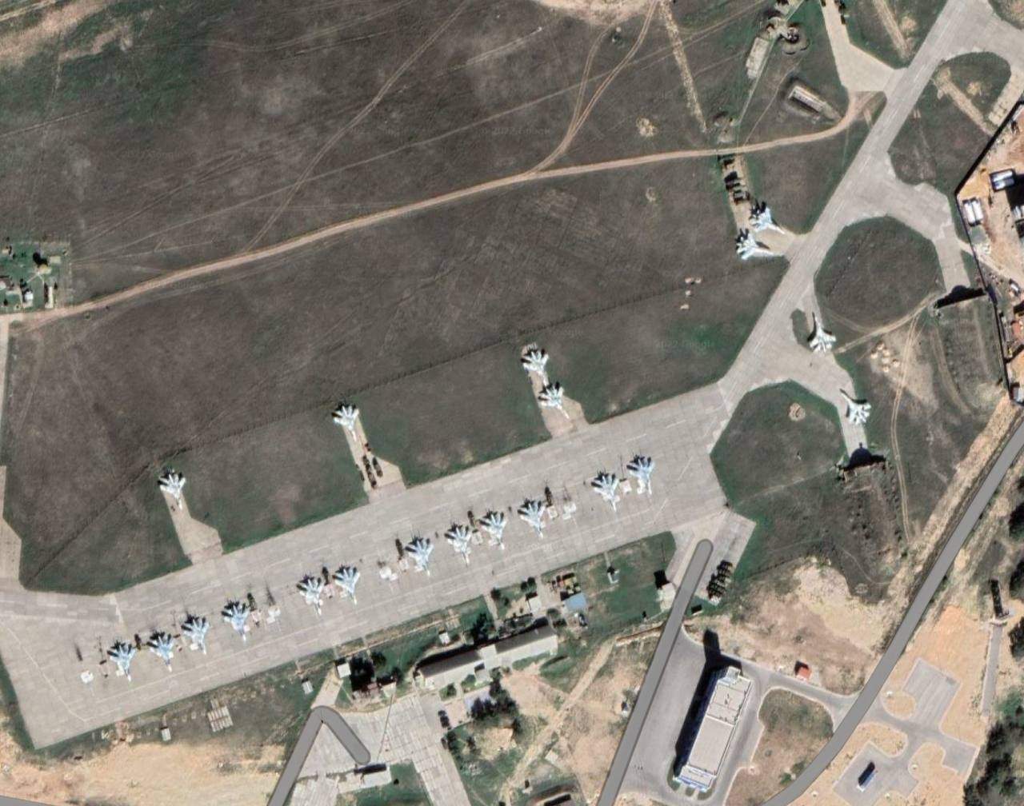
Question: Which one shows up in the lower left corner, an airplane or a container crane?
airplane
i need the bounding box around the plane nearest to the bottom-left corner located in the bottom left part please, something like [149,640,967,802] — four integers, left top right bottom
[109,641,135,682]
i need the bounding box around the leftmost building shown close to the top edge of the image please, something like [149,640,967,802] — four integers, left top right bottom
[747,38,769,77]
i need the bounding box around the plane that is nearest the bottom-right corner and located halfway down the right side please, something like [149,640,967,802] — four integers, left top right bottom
[840,390,872,425]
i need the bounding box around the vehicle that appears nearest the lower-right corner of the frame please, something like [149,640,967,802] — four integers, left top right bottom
[859,768,875,786]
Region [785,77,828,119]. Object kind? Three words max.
building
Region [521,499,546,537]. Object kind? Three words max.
airplane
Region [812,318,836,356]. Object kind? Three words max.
airplane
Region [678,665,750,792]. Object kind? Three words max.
building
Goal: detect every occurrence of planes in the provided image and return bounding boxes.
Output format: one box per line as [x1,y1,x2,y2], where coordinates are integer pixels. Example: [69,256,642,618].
[335,565,360,604]
[523,346,547,386]
[840,390,872,425]
[630,455,655,494]
[446,524,471,564]
[594,472,619,511]
[408,536,433,577]
[109,641,135,682]
[483,510,507,549]
[149,631,175,670]
[334,402,359,441]
[750,207,784,233]
[160,469,185,510]
[541,382,569,418]
[299,576,324,614]
[812,318,836,356]
[740,234,776,259]
[521,499,546,537]
[224,601,249,640]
